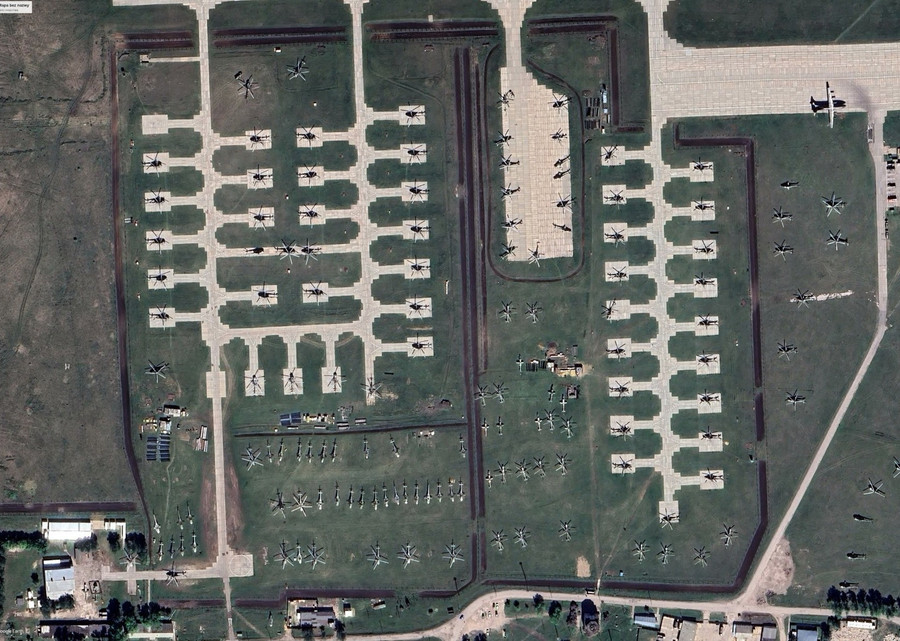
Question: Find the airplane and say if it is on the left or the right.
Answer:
right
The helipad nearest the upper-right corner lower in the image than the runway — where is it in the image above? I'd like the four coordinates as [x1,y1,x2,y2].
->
[690,162,714,181]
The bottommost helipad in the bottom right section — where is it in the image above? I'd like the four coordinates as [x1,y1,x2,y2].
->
[659,501,679,523]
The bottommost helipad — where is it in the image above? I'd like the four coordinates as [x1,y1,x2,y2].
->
[227,555,253,578]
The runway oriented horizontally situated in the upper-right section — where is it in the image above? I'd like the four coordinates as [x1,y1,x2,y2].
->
[648,15,900,124]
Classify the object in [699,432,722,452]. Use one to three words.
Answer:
helipad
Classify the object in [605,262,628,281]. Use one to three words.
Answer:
helipad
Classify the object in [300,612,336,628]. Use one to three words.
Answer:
house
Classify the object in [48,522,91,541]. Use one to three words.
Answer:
building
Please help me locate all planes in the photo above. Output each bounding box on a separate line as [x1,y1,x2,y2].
[814,88,846,128]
